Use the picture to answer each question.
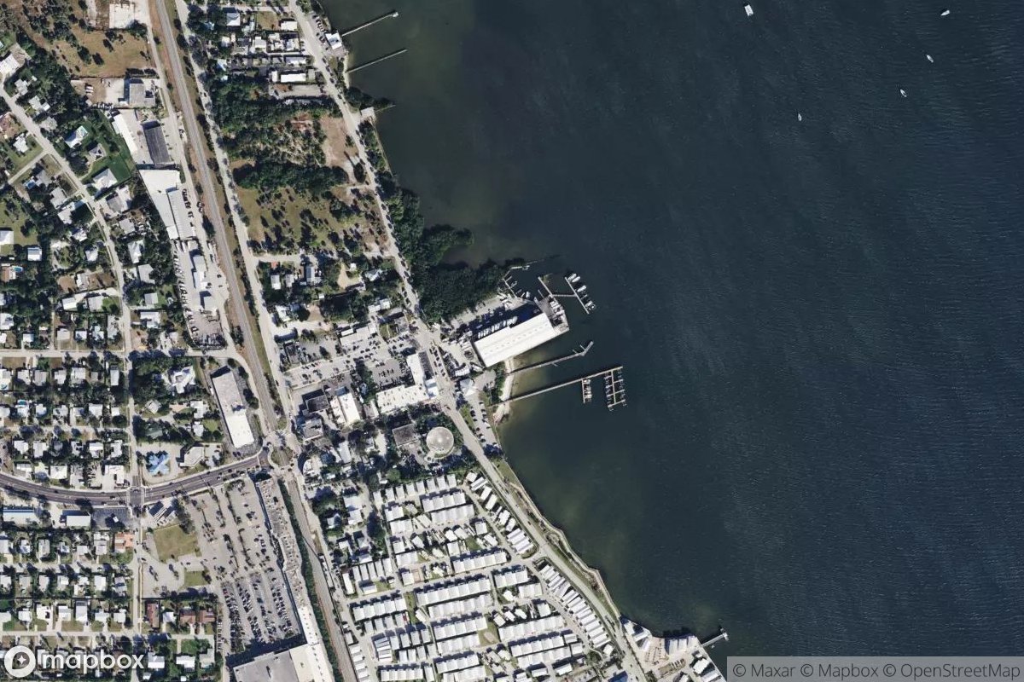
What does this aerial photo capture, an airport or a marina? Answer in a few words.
marina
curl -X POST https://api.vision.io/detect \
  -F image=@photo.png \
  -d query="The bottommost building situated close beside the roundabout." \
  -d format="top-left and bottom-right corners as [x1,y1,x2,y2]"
[258,479,312,609]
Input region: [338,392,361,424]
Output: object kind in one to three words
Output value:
building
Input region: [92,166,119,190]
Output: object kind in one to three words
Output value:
house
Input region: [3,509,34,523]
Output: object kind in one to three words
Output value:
house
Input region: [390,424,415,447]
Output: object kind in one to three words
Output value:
building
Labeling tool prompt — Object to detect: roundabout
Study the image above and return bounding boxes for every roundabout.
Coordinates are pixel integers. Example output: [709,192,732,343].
[257,432,302,476]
